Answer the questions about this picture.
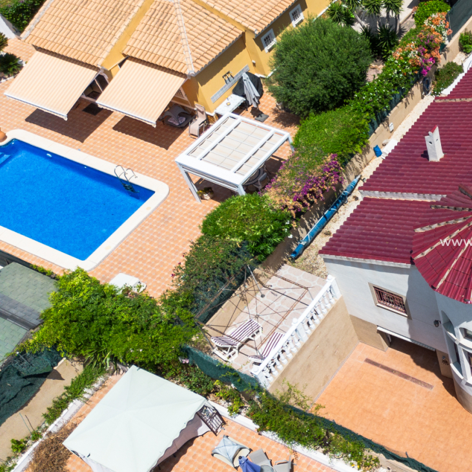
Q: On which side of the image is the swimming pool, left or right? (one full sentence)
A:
The swimming pool sits on the left side.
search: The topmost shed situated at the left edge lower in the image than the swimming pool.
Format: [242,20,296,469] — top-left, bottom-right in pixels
[0,263,59,344]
